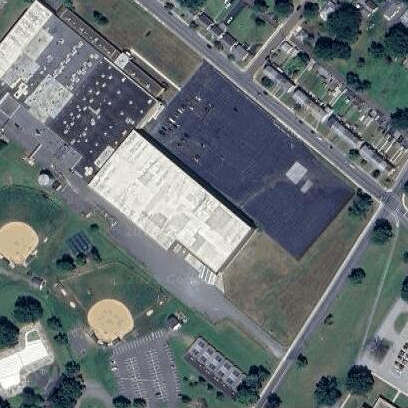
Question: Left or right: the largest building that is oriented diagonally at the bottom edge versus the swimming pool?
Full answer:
Relative to the swimming pool, the largest building that is oriented diagonally at the bottom edge lies to the right.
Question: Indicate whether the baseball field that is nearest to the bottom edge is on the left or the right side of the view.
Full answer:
The baseball field that is nearest to the bottom edge sits on the left side.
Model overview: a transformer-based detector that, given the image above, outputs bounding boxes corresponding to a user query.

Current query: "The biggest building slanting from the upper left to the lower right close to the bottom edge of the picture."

[187,337,248,390]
